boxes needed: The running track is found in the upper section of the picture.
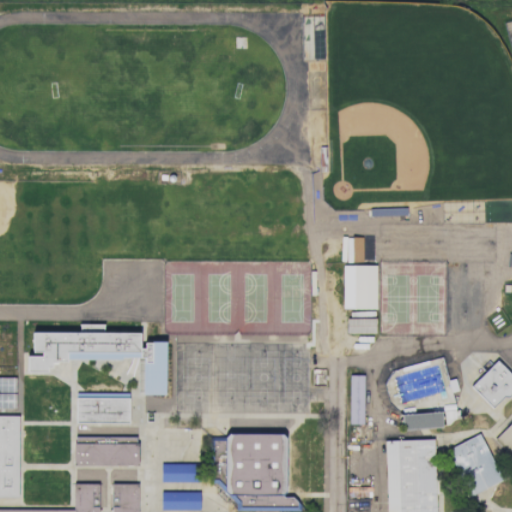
[0,12,310,164]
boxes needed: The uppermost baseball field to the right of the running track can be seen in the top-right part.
[325,3,512,211]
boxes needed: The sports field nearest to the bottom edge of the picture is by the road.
[0,171,310,304]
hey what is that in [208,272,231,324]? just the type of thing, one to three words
tennis court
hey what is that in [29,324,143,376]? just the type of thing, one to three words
building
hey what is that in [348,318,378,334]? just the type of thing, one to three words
shed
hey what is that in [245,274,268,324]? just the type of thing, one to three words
tennis court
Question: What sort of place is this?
sports ground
